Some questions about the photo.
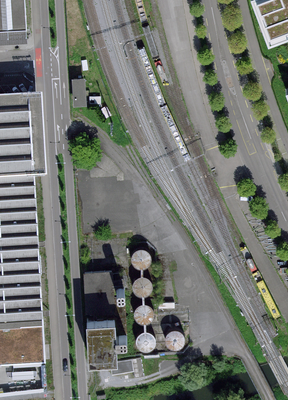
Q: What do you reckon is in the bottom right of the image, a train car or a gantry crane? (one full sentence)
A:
The one visible in the bottom right of the image is a train car.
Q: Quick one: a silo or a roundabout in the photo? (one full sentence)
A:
Of the two, only a silo appears.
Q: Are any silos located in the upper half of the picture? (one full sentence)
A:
No, no silo can be made out in the upper half of the picture.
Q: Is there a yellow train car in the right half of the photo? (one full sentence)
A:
Yes, the scene does show a yellow train car in the right half of the photo.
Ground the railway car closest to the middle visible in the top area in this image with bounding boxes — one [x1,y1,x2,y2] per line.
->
[162,105,190,157]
